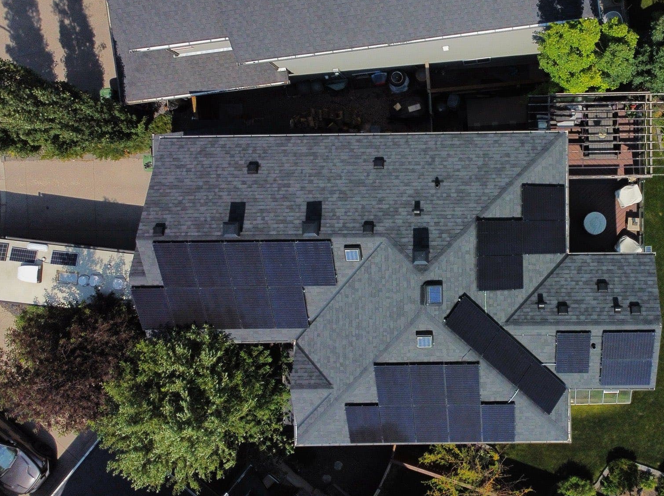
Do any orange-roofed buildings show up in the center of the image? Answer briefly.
No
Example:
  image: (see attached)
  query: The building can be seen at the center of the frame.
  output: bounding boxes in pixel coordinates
[128,128,662,449]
